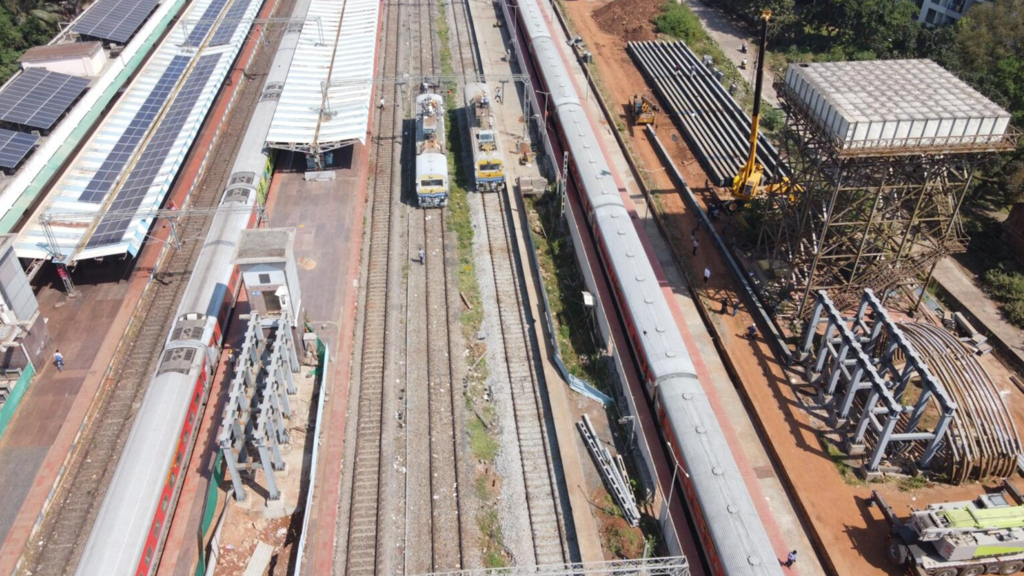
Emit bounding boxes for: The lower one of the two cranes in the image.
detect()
[866,477,1024,576]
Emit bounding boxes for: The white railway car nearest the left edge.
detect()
[415,101,447,209]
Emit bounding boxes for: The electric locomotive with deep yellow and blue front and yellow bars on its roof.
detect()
[465,90,504,193]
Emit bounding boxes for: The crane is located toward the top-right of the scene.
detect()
[701,10,822,225]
